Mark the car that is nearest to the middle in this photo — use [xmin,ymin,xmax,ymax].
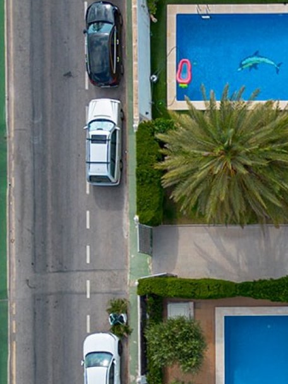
[79,98,129,187]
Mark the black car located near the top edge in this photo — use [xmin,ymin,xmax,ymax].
[79,1,129,89]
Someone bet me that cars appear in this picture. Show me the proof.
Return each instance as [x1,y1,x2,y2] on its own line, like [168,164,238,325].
[79,98,129,187]
[78,332,128,384]
[79,1,129,89]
